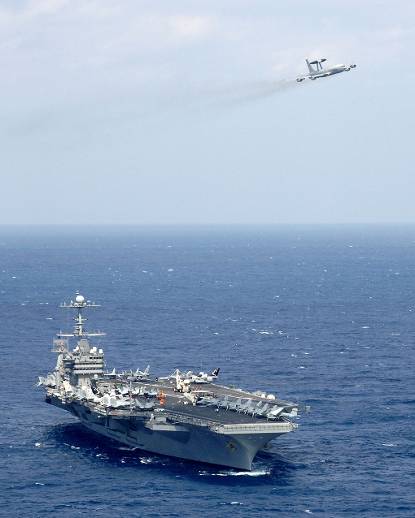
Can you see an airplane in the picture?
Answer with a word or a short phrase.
Yes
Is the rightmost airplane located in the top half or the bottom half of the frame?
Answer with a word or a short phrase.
top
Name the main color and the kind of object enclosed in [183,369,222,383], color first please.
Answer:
white airplane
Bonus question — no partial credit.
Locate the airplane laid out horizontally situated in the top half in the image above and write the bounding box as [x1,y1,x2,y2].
[289,58,355,82]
